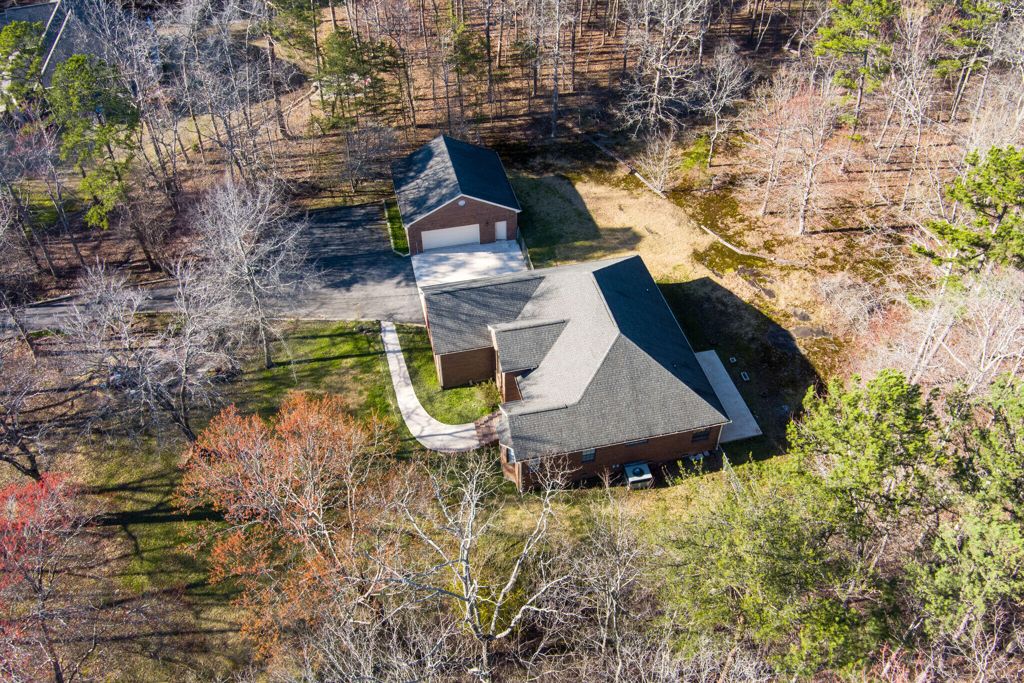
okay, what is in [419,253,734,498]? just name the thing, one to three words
house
